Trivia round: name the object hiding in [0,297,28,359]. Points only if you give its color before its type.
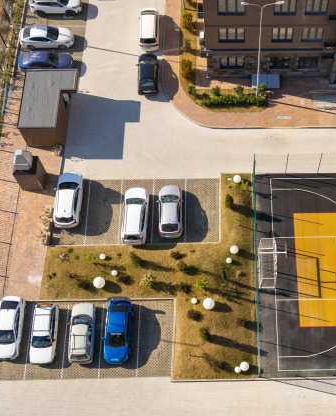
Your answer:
white car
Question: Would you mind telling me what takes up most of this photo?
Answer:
paved ground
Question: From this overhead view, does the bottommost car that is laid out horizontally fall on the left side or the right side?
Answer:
left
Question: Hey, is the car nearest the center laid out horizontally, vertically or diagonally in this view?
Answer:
vertically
